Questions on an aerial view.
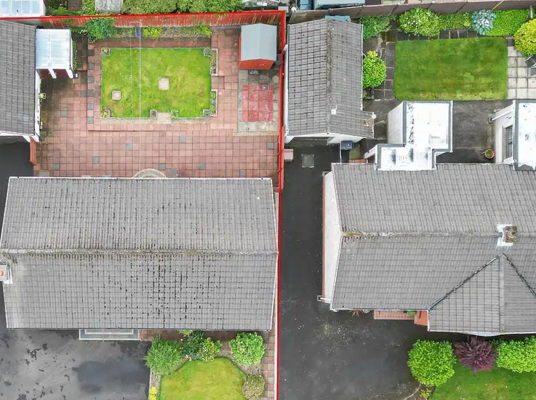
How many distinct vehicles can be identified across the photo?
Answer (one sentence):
The picture shows no vehicles.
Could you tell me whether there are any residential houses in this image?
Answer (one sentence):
Yes, there's a residential house here.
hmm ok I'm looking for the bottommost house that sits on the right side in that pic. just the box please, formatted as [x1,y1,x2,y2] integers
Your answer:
[317,162,536,336]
